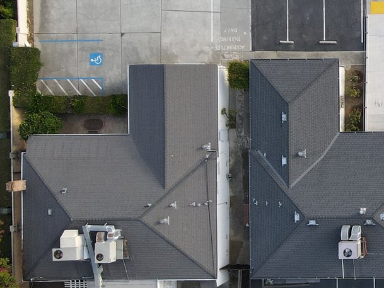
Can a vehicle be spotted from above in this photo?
No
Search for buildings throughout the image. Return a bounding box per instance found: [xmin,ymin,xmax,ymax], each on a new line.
[6,64,228,281]
[248,58,384,288]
